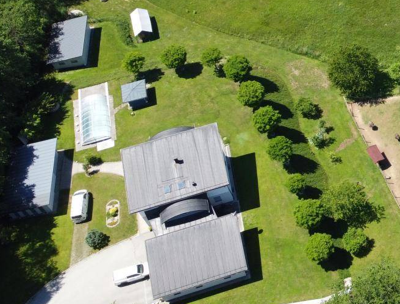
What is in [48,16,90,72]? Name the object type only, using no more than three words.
shed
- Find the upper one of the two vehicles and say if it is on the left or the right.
left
